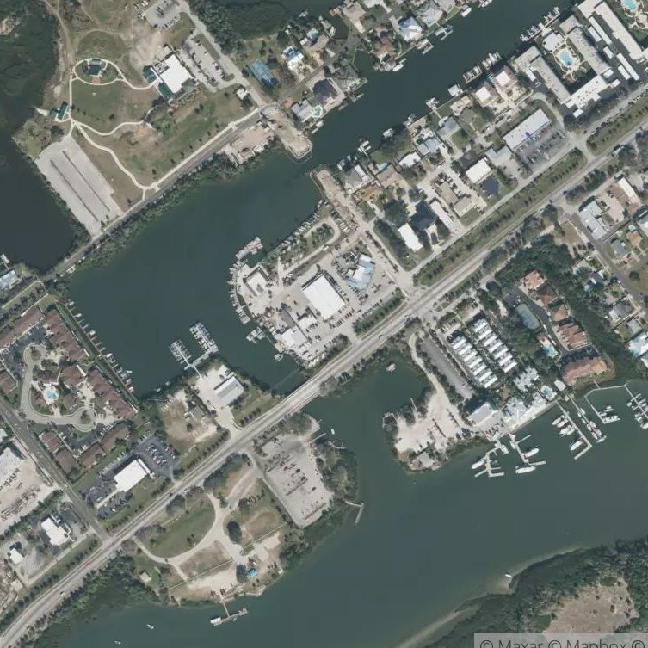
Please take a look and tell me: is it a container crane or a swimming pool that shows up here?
swimming pool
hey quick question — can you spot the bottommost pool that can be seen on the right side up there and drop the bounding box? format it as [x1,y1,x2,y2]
[541,385,557,401]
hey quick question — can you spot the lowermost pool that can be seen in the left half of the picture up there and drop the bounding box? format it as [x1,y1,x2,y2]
[39,385,63,405]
